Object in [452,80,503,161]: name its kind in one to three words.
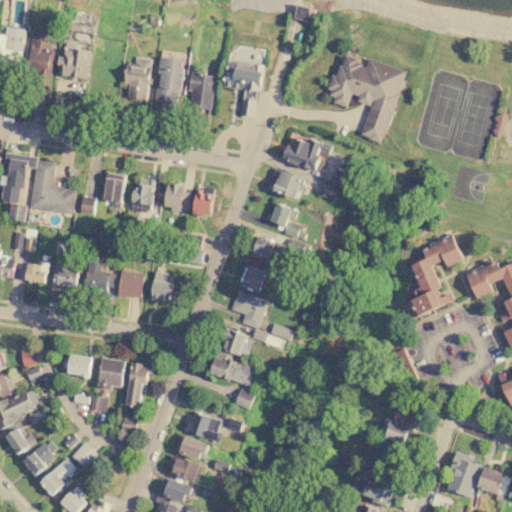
tennis court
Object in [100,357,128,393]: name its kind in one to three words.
house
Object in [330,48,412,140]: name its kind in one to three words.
building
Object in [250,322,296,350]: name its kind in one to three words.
shed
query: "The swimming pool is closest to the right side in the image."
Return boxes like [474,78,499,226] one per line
[48,214,62,228]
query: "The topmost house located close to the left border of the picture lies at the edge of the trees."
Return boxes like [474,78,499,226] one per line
[0,28,29,58]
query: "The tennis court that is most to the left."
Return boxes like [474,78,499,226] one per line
[417,70,468,154]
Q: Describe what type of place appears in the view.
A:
residential area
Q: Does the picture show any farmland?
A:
No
